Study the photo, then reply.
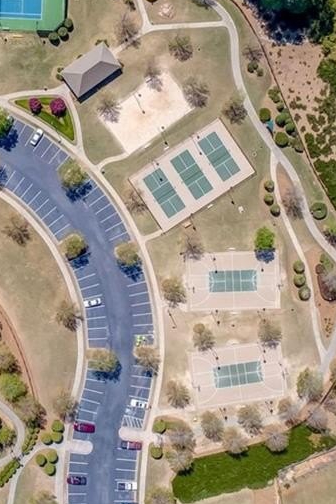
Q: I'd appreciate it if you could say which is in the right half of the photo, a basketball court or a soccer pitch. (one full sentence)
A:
The feature located in the right half of the photo is a basketball court.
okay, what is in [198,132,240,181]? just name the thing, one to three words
sports court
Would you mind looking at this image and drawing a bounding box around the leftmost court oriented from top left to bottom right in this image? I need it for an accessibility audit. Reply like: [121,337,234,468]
[143,168,186,218]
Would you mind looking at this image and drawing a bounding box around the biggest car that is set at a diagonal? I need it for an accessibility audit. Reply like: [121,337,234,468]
[30,129,44,146]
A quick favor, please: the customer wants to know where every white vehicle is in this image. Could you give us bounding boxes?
[30,129,44,146]
[118,482,138,491]
[130,400,148,409]
[84,298,102,307]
